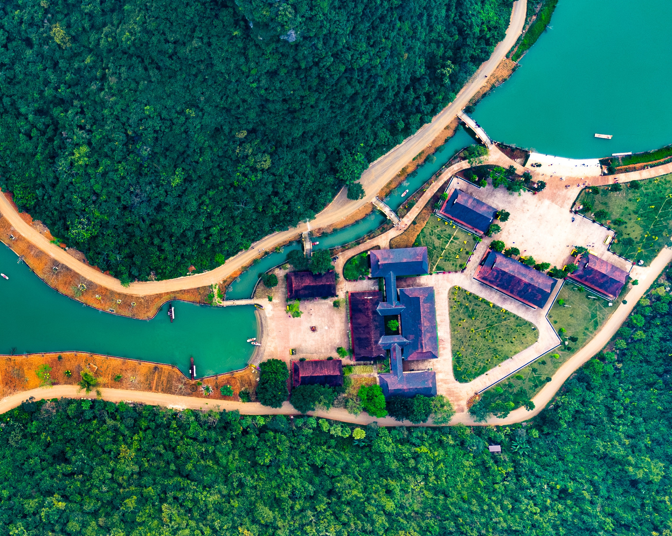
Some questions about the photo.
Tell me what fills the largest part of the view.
trees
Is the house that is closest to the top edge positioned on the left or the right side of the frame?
right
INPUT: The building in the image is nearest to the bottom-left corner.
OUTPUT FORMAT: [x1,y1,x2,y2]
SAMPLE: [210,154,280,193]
[293,360,342,387]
